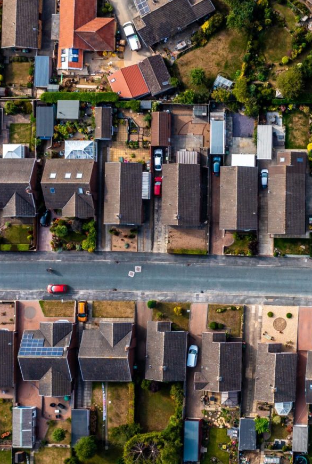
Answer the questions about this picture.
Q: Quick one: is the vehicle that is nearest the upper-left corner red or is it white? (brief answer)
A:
white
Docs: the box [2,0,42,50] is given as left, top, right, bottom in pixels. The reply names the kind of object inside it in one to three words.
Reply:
house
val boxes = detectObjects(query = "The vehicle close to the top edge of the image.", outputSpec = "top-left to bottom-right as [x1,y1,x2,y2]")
[122,20,144,52]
